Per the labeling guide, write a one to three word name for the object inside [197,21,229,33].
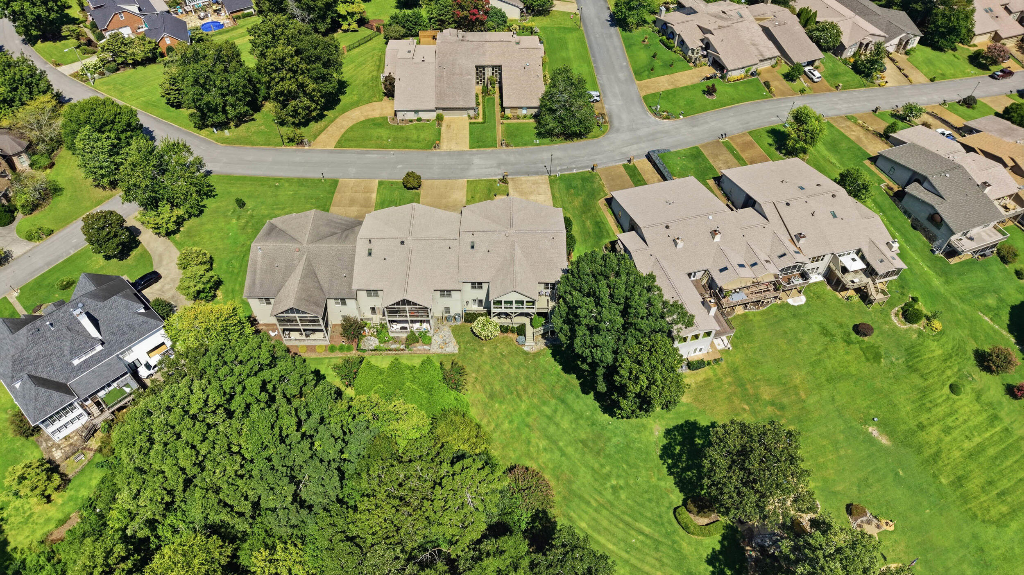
swimming pool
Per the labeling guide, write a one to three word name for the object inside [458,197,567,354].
house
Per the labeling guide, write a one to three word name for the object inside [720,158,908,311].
house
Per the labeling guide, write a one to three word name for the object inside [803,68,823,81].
vehicle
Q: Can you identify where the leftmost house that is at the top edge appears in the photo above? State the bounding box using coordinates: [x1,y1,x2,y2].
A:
[87,0,193,55]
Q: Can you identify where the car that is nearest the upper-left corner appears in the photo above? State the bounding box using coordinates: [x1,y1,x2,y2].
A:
[129,267,166,294]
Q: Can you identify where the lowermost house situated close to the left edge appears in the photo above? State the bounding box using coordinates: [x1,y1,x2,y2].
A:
[0,272,169,443]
